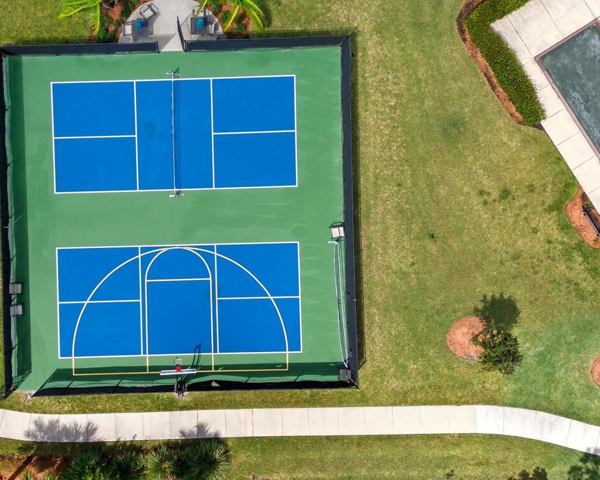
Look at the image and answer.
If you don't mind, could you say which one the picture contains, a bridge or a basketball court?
basketball court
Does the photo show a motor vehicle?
No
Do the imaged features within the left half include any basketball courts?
Yes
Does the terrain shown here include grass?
Yes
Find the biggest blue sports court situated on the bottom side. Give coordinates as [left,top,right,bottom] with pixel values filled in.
[56,242,302,359]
